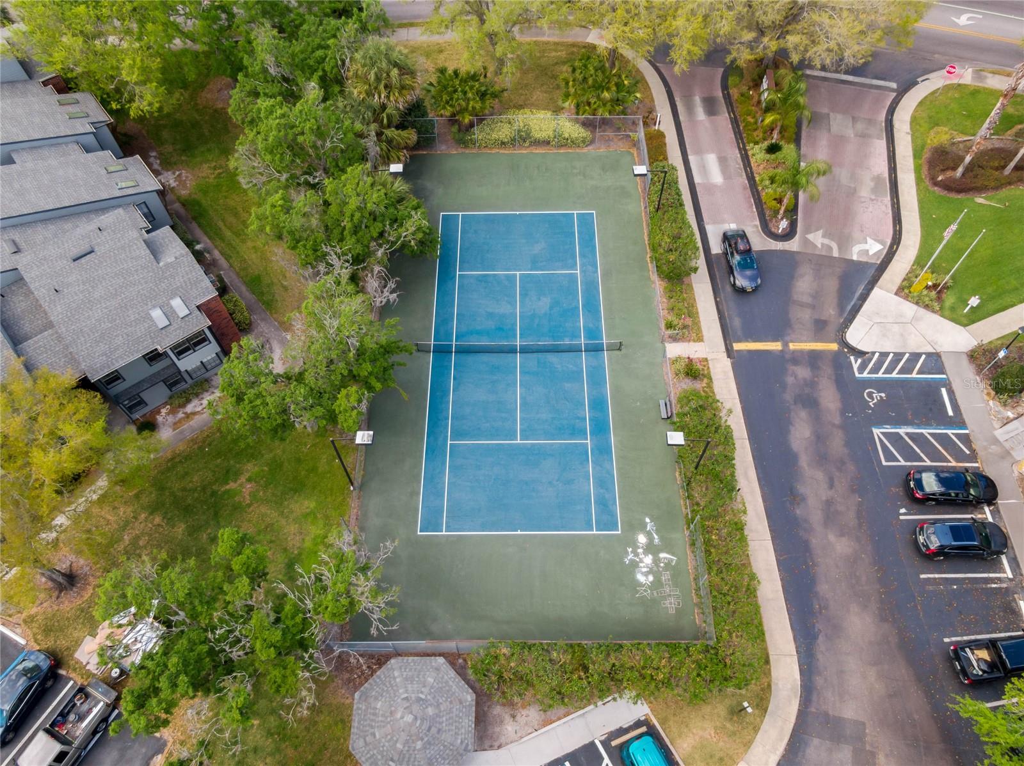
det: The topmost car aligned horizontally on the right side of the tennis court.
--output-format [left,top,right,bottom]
[902,465,1001,508]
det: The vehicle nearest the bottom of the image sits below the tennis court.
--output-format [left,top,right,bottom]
[626,731,676,766]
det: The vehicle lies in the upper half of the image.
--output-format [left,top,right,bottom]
[722,231,763,294]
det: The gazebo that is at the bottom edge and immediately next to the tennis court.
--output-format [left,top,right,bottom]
[352,657,477,766]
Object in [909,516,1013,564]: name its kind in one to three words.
car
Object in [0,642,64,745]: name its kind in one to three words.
car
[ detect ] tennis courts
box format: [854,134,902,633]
[347,150,702,643]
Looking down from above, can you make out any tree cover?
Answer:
Yes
